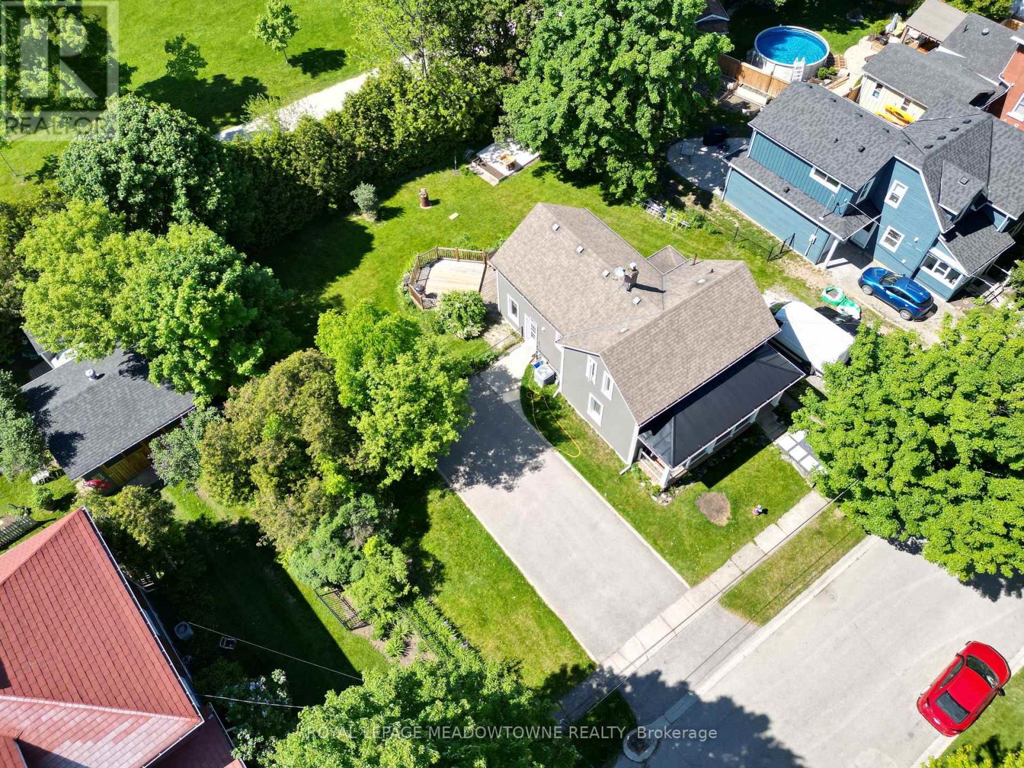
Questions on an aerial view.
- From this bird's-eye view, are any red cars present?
Yes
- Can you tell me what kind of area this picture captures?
residential area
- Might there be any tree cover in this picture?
Yes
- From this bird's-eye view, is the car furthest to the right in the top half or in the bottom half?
bottom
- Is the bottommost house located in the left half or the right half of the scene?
left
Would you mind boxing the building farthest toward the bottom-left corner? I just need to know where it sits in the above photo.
[0,507,250,768]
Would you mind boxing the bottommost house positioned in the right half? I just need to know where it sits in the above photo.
[485,203,805,491]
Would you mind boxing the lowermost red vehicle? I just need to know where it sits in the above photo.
[914,641,1015,738]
